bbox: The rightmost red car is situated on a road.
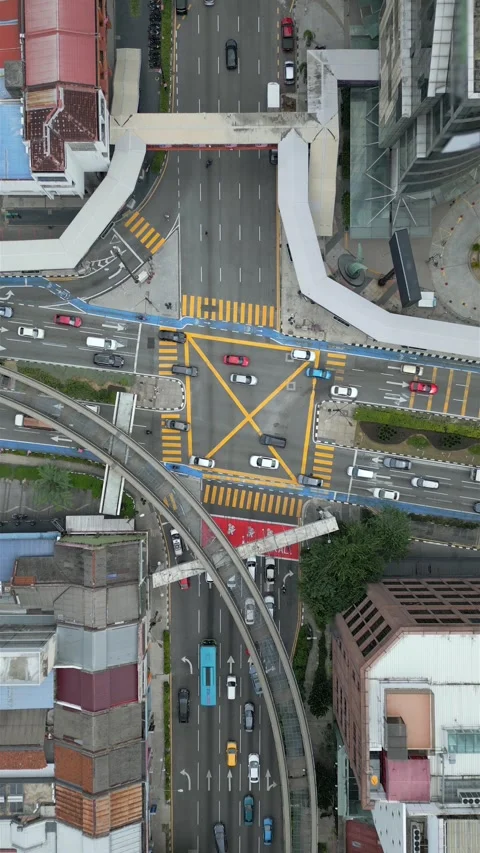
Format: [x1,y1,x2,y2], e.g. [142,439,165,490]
[408,381,438,394]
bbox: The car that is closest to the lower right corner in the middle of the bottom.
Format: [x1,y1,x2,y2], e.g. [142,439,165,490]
[262,817,274,844]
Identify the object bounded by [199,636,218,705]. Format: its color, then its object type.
blue vehicle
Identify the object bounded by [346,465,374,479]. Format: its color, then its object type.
white vehicle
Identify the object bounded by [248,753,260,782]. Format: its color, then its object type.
white vehicle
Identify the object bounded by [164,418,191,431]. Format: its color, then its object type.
gray vehicle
